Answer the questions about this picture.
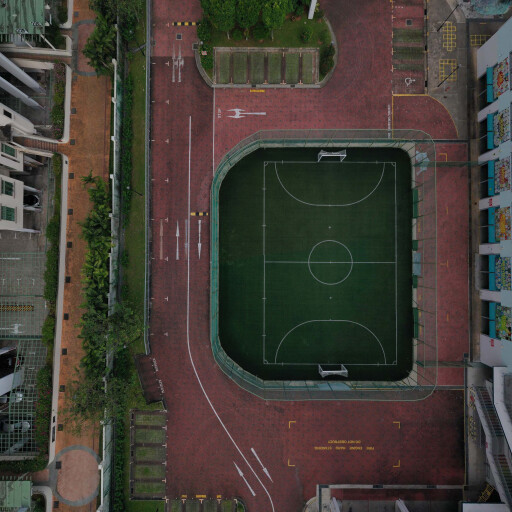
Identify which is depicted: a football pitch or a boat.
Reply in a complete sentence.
It is a football pitch that can be seen here.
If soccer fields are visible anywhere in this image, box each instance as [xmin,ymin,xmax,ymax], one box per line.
[212,142,416,388]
